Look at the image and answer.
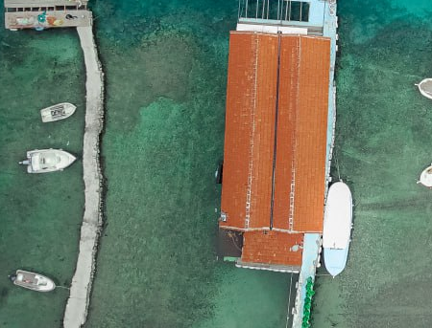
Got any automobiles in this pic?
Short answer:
No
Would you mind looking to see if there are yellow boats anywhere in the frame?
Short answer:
No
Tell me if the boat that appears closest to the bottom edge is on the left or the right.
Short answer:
left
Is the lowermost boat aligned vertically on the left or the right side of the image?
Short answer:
right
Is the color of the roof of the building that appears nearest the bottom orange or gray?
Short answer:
orange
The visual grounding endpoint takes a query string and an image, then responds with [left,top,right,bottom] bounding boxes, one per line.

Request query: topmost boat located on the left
[41,104,77,121]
